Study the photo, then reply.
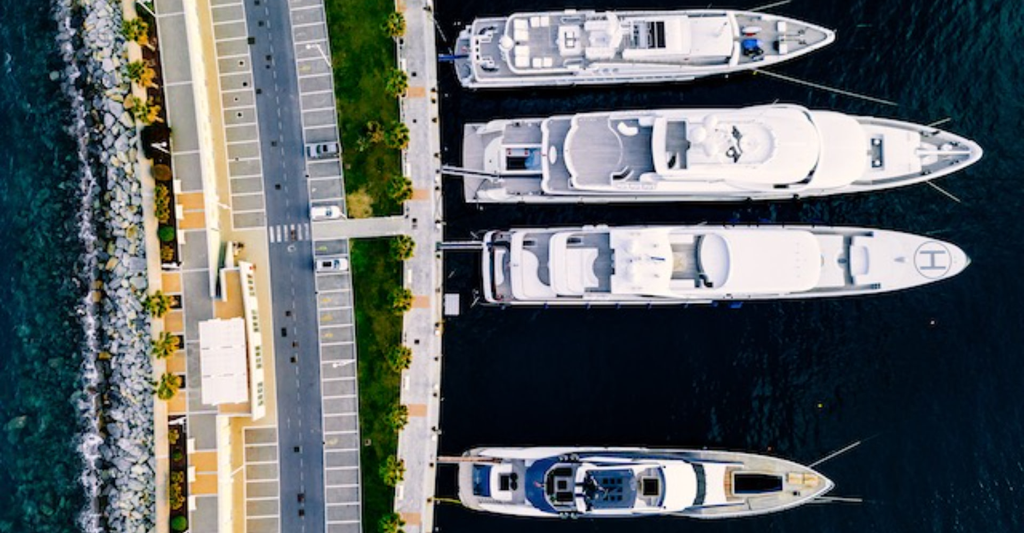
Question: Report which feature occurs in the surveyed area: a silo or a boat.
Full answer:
Looking from above, you can make out a boat.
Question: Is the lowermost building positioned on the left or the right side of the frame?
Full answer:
The lowermost building appears in the left half of the scene.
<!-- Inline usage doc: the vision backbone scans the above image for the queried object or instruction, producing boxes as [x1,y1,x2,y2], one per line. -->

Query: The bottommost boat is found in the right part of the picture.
[460,444,833,519]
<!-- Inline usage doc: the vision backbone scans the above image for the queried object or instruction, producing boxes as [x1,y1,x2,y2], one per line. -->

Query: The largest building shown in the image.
[201,262,265,418]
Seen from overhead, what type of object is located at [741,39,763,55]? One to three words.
boat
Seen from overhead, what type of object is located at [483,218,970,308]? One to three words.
boat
